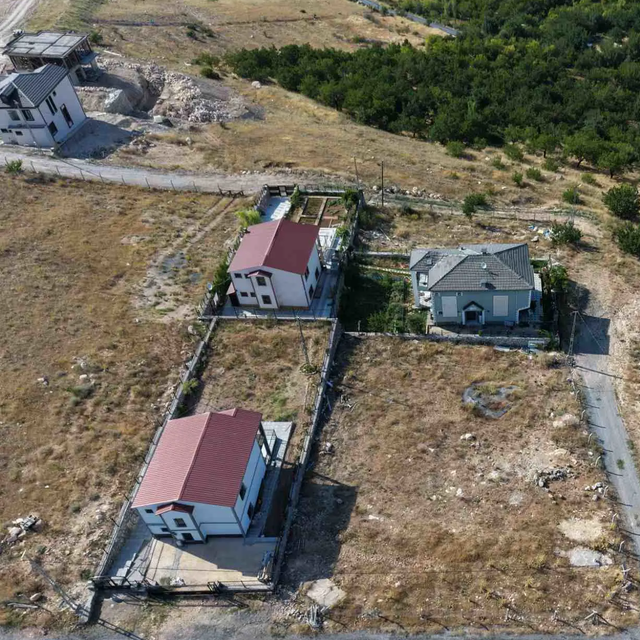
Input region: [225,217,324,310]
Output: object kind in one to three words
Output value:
house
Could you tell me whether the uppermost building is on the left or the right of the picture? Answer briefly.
left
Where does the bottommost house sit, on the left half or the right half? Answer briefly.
left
